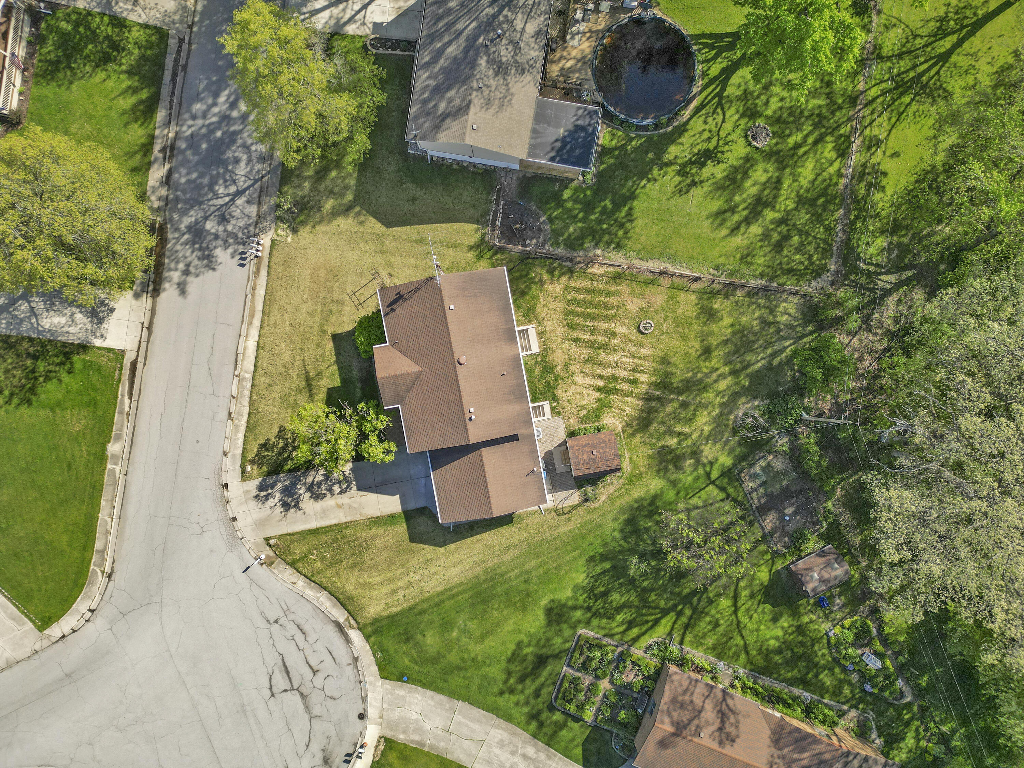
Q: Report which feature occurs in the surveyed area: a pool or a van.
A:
pool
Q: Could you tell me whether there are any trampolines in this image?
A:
No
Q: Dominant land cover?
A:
grass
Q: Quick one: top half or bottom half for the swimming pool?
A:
top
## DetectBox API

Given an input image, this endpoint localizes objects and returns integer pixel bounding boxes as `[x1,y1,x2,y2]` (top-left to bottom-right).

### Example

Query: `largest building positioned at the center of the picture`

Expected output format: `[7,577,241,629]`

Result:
[373,266,550,531]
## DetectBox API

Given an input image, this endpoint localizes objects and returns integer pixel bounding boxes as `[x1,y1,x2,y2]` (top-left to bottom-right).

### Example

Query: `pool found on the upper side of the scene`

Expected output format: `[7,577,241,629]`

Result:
[591,17,698,128]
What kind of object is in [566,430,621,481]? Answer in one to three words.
shed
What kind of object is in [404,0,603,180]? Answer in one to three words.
house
